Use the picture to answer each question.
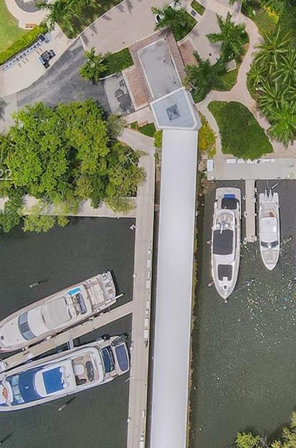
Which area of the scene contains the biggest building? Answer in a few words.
top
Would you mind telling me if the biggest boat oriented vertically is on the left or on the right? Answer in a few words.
right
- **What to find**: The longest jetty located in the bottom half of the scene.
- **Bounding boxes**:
[7,300,134,369]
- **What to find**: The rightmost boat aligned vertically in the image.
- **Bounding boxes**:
[260,192,279,270]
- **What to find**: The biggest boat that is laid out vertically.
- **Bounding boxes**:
[213,188,244,302]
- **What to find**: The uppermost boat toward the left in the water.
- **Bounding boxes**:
[0,271,124,351]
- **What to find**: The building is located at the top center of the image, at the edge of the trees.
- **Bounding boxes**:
[129,29,189,104]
